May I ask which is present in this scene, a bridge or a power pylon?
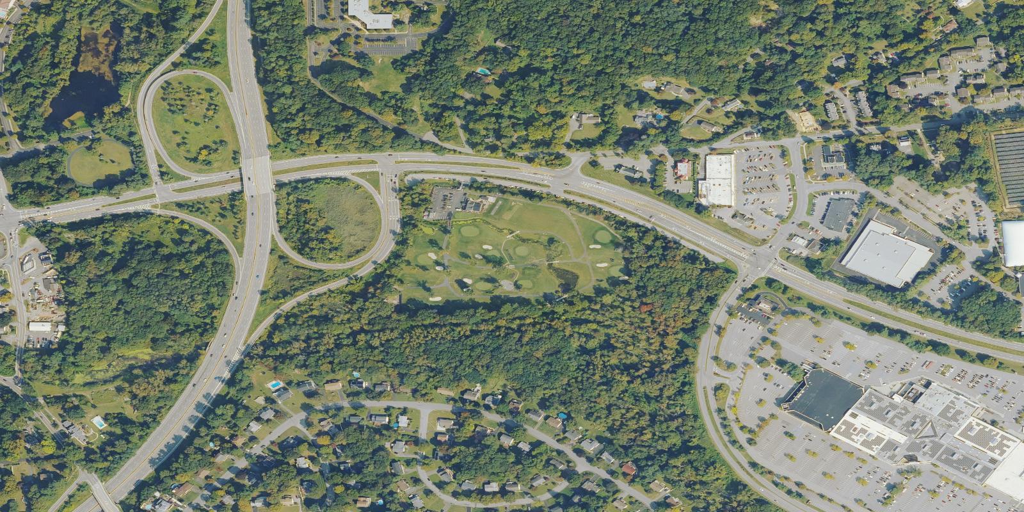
bridge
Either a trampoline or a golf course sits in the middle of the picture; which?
golf course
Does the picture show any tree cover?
Yes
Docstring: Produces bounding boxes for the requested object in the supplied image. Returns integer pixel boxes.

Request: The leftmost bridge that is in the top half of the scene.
[240,149,272,204]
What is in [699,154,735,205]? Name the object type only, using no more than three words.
building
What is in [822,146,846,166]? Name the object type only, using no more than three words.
building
